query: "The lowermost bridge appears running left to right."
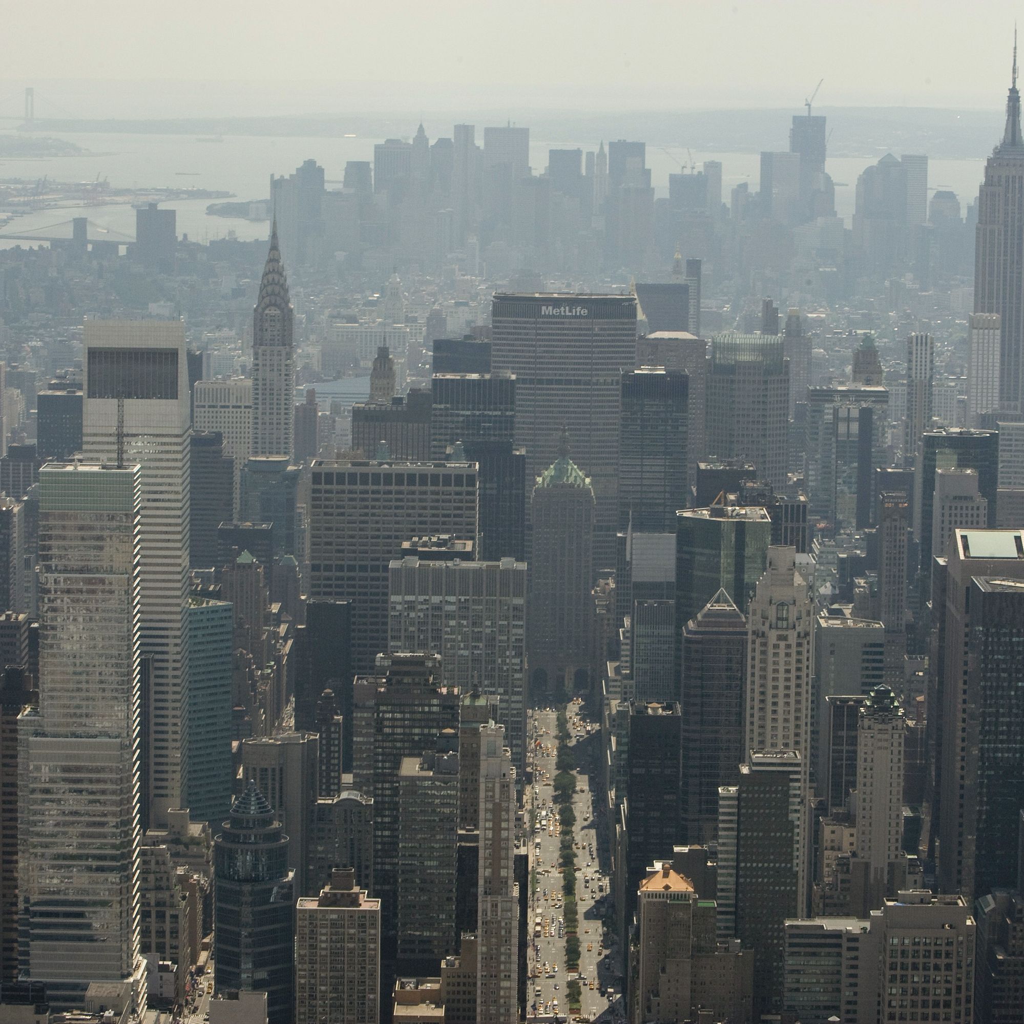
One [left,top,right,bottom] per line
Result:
[0,217,135,249]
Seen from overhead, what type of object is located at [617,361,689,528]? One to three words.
building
